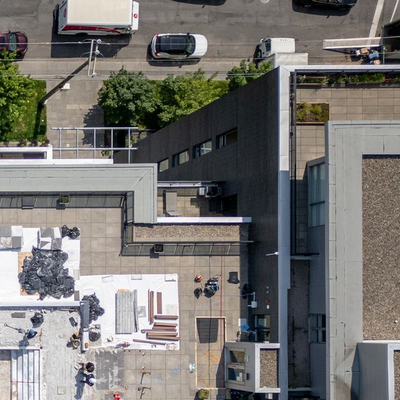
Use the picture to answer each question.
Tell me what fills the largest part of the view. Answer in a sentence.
The scene is dominated by buildings.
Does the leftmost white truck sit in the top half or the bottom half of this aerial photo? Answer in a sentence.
The leftmost white truck sits in the top half of the picture.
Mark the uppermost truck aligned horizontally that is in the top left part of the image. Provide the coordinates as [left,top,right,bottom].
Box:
[51,0,135,35]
